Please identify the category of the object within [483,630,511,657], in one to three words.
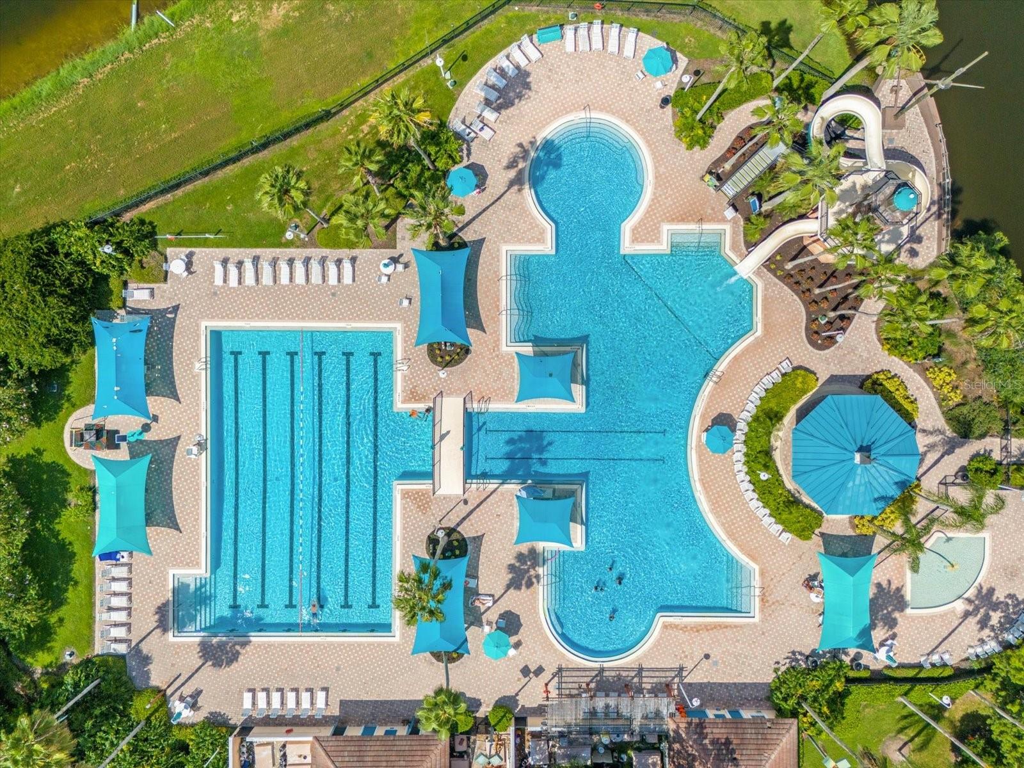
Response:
umbrella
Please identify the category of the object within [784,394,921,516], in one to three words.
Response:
gazebo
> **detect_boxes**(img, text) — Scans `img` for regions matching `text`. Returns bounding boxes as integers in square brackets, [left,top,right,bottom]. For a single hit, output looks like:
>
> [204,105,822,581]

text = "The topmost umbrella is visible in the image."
[642,47,673,78]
